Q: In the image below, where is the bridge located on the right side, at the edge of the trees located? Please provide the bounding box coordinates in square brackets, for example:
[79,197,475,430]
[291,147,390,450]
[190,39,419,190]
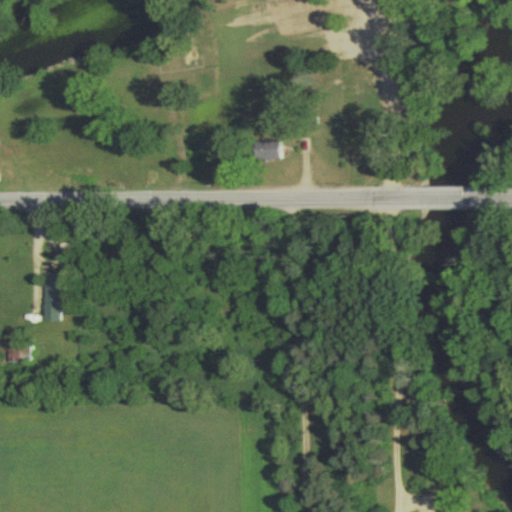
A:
[426,184,466,212]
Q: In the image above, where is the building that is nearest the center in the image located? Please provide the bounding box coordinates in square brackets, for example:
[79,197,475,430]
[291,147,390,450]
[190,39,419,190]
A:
[254,142,285,162]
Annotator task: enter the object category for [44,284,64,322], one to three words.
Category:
house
